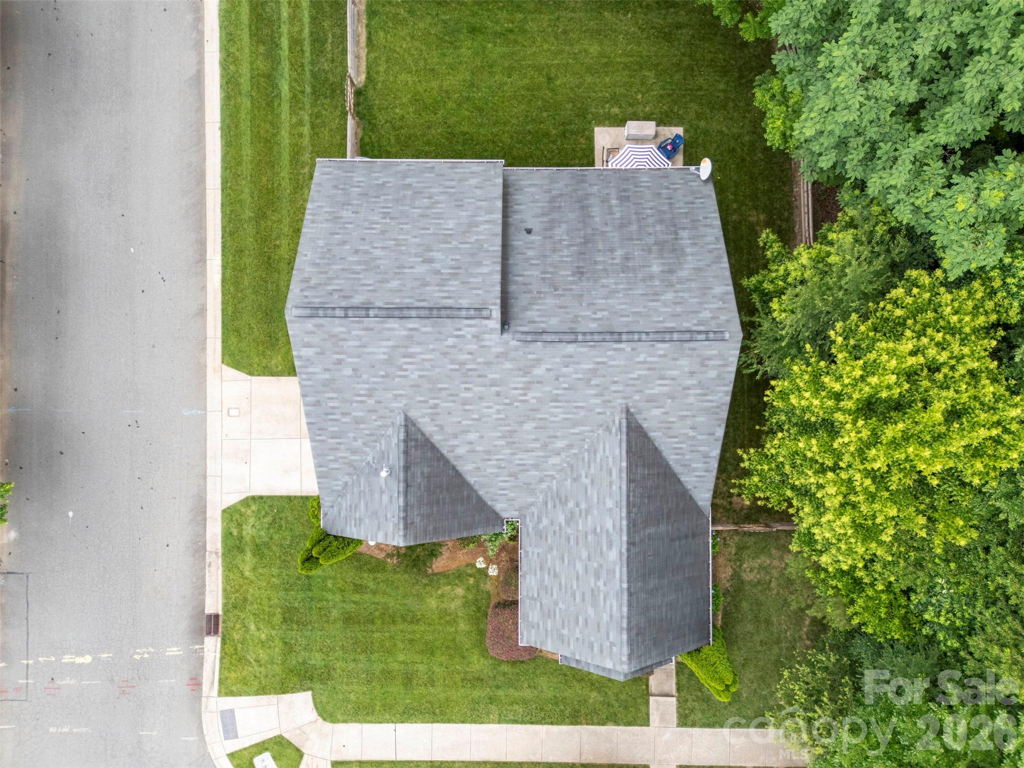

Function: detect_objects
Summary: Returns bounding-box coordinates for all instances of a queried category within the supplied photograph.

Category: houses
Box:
[287,161,742,681]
